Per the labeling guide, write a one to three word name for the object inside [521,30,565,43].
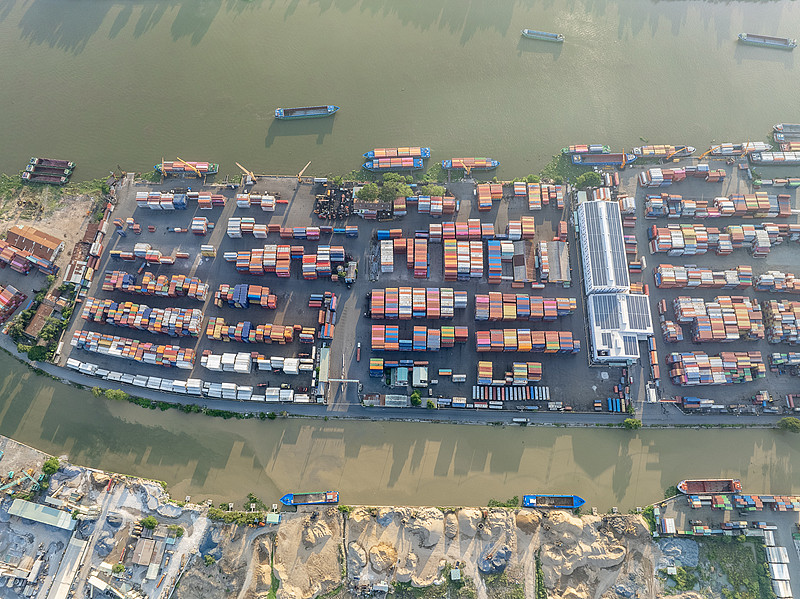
vessel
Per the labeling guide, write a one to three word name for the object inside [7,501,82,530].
shed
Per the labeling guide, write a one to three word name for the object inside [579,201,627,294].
building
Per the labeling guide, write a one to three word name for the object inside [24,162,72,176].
vessel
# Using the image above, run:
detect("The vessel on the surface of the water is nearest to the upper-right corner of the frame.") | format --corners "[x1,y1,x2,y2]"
[738,34,797,50]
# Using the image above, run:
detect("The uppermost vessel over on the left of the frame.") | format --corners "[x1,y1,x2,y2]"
[275,104,340,119]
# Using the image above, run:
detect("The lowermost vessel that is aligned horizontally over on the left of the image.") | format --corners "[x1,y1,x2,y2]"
[280,488,339,504]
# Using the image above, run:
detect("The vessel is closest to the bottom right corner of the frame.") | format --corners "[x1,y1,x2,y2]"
[677,476,743,494]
